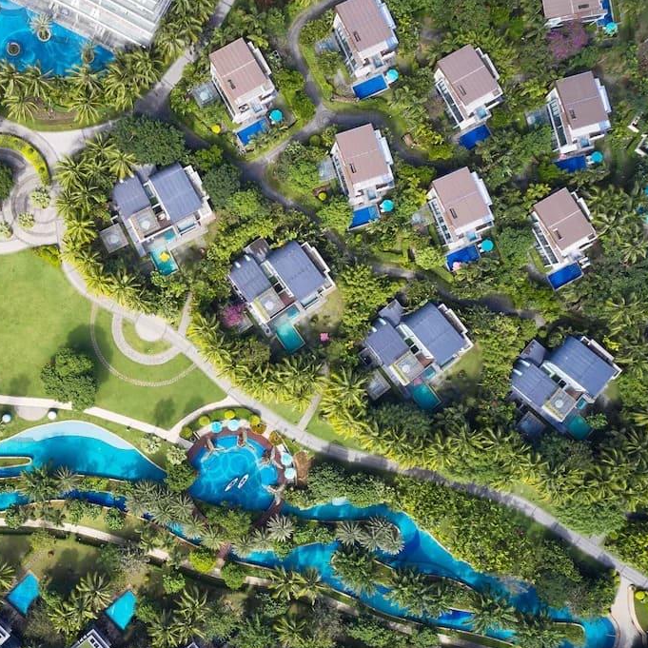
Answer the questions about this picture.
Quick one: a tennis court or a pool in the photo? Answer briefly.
pool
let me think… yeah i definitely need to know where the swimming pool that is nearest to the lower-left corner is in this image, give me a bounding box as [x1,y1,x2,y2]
[4,571,39,617]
